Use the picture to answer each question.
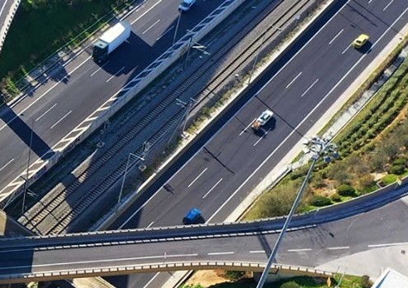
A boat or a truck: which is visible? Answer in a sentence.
This aerial view contains a truck.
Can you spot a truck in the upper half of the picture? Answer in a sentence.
Yes, a truck is visible in the upper half of the picture.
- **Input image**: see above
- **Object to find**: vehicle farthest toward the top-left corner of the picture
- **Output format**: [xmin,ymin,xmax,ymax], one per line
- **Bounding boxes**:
[95,17,134,55]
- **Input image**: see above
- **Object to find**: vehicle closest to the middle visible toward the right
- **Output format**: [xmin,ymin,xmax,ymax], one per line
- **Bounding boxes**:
[252,113,272,132]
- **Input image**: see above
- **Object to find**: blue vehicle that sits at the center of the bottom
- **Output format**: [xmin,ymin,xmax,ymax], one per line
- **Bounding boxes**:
[182,210,201,227]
